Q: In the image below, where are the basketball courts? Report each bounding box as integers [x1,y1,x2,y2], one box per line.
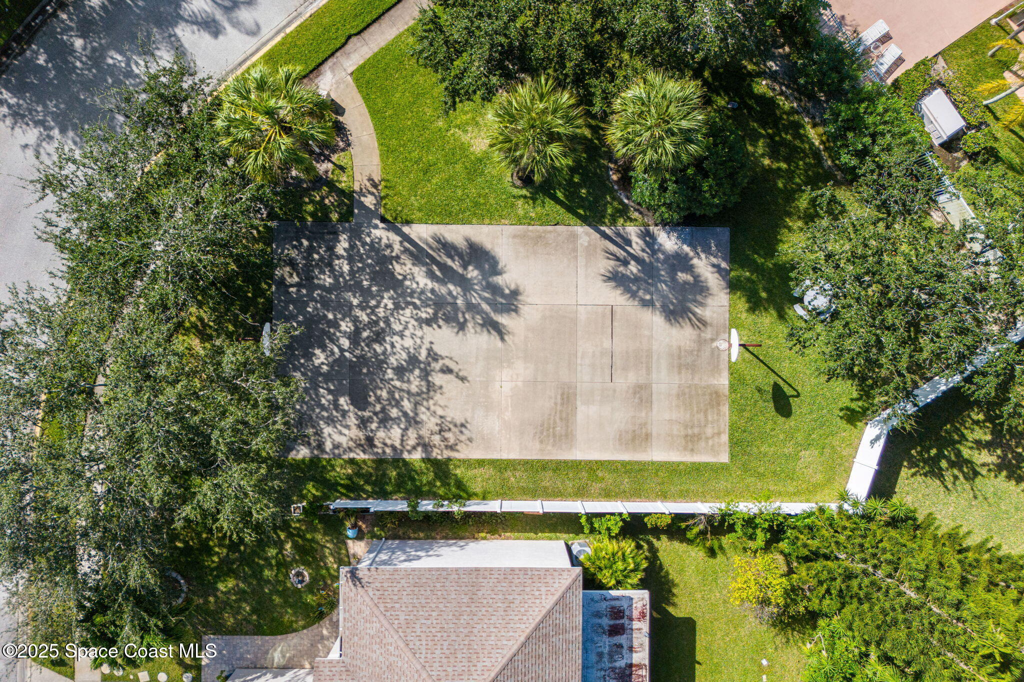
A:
[272,222,729,462]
